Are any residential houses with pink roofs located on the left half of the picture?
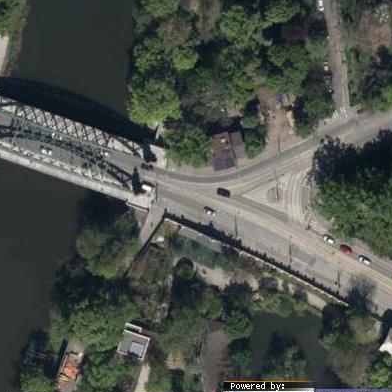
No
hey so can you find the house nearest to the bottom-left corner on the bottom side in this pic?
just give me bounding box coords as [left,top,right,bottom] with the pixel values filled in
[117,322,148,361]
